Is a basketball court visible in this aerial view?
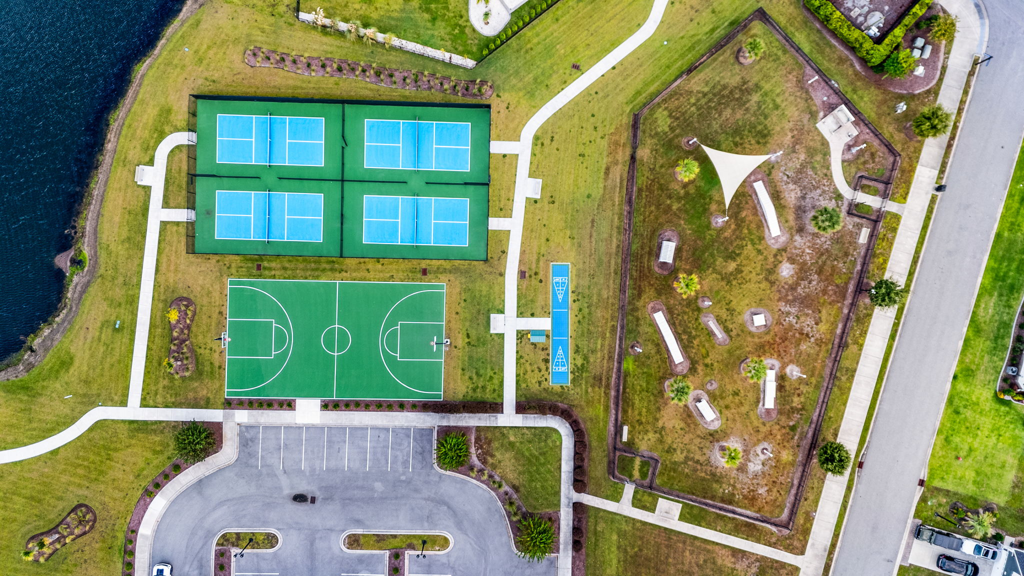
Yes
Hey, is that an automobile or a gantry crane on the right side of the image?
automobile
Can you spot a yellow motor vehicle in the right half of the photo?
No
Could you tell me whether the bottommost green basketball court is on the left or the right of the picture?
left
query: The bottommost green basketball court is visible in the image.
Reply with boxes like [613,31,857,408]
[225,278,446,401]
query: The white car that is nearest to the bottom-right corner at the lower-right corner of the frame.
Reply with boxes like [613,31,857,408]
[959,535,998,559]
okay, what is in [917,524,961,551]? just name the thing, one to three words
car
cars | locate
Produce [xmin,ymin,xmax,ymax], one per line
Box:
[153,564,171,576]
[938,554,980,576]
[917,524,961,551]
[959,535,998,559]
